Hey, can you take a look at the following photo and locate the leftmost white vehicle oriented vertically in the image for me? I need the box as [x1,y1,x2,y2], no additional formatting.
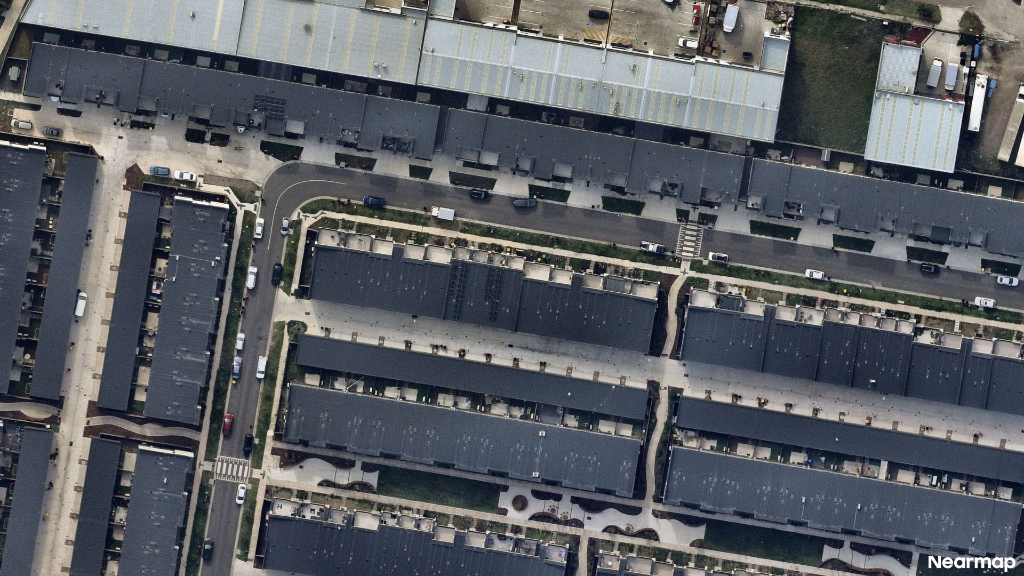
[75,292,87,318]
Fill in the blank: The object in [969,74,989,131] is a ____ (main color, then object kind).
white trailer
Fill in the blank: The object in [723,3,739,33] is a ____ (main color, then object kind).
white vehicle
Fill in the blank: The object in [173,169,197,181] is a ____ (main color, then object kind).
white vehicle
